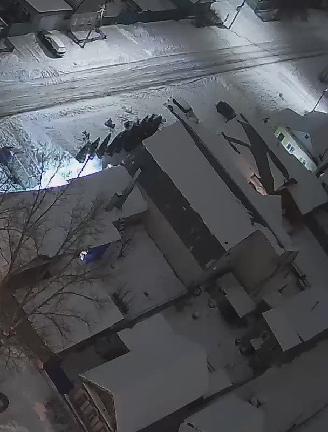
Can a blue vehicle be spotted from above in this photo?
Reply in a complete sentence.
No, there's no blue vehicle here.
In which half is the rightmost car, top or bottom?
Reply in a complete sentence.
The top half of the photo is where the rightmost car is.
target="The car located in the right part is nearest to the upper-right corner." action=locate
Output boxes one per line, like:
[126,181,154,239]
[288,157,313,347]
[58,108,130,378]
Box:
[214,97,241,120]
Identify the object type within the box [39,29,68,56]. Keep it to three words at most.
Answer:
car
